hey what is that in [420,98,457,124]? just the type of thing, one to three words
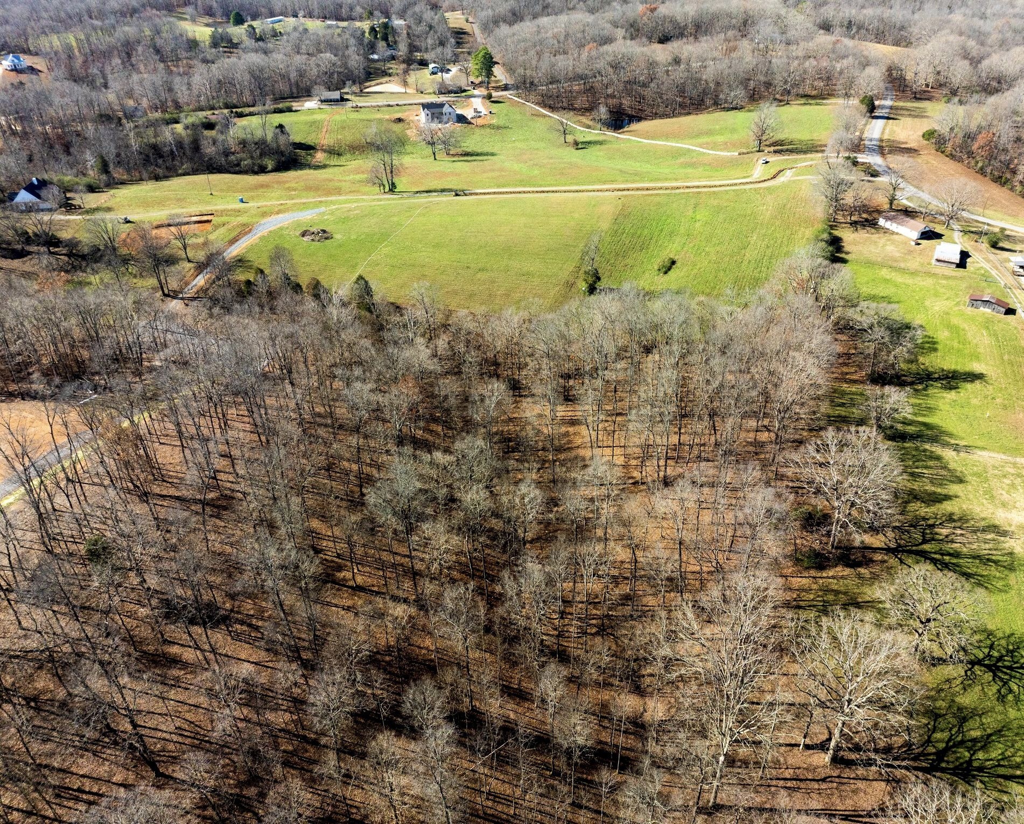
house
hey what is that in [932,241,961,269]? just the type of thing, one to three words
barn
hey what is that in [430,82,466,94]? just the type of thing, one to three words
house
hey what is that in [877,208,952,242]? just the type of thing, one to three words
building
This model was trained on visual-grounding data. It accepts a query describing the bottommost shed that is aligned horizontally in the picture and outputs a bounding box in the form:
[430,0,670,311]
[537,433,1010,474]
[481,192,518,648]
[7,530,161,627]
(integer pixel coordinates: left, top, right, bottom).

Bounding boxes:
[967,293,1012,315]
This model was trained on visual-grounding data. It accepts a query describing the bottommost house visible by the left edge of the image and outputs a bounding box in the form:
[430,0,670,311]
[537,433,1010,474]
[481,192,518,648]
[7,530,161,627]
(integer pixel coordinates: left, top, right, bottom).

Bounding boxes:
[1,173,68,213]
